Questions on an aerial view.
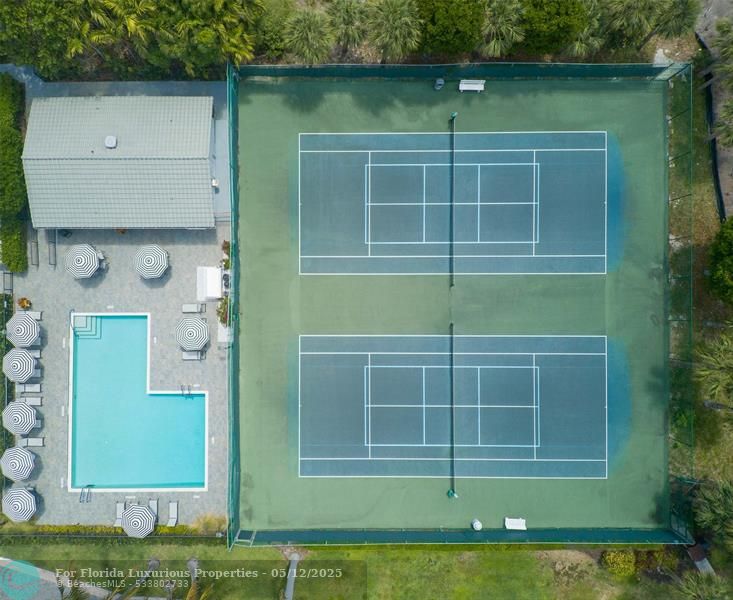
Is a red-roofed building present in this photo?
No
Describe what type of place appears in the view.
sports ground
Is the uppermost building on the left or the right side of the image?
left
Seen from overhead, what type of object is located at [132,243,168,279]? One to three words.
umbrella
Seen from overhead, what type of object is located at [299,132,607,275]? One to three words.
tennis court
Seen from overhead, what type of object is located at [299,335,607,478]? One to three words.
tennis court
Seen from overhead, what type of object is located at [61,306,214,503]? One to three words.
swimming pool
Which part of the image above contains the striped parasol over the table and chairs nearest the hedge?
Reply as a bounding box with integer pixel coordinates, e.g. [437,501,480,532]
[65,244,100,279]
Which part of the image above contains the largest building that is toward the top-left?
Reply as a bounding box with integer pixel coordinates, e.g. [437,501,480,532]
[24,96,217,232]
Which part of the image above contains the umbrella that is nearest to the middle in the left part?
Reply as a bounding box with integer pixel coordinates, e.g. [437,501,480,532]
[174,317,210,353]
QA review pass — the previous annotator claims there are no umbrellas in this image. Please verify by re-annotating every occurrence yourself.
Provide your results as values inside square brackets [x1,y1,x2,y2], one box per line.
[6,313,42,348]
[119,503,154,539]
[65,244,100,279]
[1,485,38,521]
[132,243,168,279]
[0,445,37,481]
[174,317,210,353]
[1,400,39,435]
[2,347,39,382]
